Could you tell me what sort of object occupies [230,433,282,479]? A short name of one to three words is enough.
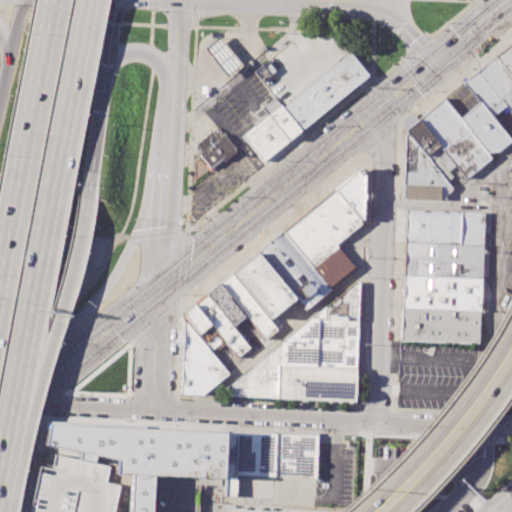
building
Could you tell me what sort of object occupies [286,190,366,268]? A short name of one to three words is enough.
building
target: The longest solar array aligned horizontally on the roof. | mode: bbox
[306,384,355,398]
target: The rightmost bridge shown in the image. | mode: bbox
[350,310,512,512]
